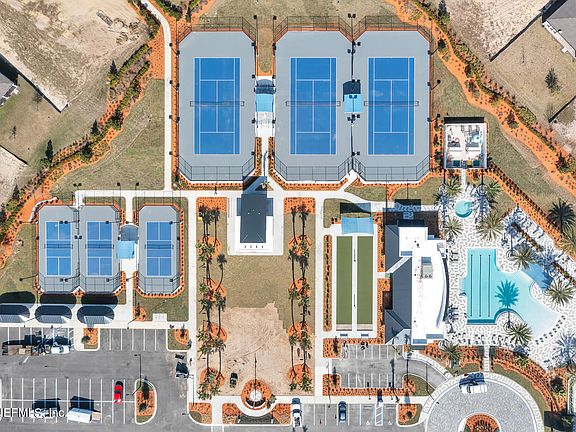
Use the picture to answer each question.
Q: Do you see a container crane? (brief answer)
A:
No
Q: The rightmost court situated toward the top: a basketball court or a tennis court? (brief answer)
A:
tennis court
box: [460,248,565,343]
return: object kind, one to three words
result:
swimming pool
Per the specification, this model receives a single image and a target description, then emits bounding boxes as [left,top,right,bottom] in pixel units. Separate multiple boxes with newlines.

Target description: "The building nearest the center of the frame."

[236,195,273,253]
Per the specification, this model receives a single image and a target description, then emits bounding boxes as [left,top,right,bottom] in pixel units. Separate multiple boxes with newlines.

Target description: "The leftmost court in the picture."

[39,206,78,291]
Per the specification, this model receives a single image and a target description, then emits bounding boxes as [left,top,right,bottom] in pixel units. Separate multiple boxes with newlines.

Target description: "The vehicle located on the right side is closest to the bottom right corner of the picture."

[462,381,488,394]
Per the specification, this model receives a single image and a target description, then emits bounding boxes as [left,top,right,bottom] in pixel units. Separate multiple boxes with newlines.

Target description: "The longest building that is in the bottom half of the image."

[384,220,453,354]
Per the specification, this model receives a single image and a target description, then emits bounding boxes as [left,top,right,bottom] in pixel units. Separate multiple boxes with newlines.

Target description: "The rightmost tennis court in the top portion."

[353,31,430,180]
